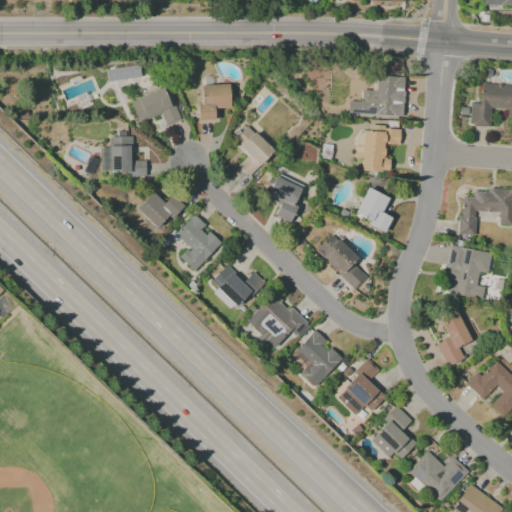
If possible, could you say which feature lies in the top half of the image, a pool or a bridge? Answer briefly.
pool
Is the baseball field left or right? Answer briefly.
left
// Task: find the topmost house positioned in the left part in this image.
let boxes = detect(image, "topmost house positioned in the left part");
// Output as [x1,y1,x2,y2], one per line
[108,64,142,80]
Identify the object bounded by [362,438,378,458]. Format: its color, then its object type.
blue swimming pool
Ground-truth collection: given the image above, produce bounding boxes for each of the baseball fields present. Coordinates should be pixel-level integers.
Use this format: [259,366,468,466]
[0,304,234,512]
